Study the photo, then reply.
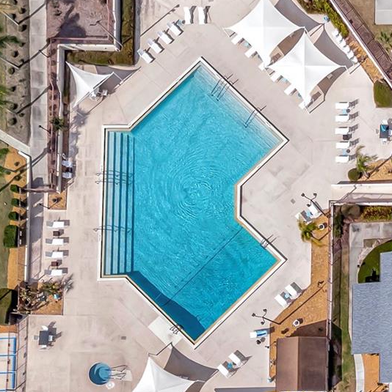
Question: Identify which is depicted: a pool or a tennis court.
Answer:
pool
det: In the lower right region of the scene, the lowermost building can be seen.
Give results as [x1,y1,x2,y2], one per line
[276,337,330,392]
